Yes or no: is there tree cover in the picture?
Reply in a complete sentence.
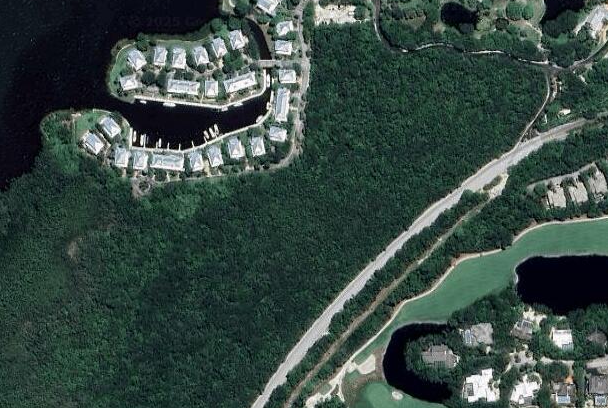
Yes, tree cover can be seen from above here.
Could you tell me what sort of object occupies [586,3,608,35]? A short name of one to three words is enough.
house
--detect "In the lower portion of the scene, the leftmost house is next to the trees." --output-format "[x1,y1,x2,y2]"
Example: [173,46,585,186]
[422,345,459,365]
